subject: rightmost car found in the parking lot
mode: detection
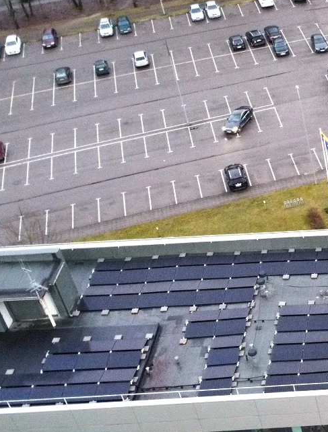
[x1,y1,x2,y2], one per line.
[310,34,328,56]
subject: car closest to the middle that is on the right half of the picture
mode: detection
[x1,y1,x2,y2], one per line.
[224,166,250,195]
